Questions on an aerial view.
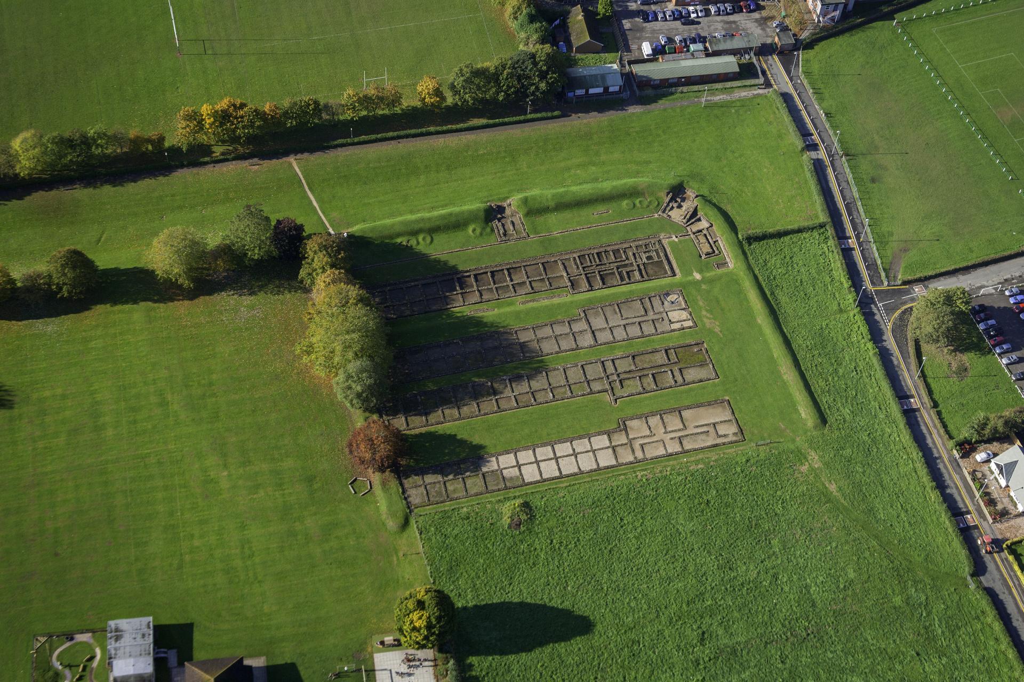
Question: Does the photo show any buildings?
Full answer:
Yes, there's a building here.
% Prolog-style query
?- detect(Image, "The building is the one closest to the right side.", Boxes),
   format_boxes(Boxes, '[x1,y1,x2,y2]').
[991,445,1024,506]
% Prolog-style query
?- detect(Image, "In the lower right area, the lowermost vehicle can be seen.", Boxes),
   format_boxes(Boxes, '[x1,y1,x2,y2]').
[978,534,997,561]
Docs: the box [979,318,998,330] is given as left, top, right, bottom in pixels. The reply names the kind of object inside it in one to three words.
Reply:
vehicle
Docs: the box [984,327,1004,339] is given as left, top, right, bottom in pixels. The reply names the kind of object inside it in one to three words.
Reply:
vehicle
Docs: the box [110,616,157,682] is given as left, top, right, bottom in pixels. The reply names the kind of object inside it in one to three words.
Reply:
building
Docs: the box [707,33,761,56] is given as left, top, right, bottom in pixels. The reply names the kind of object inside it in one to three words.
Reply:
shed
